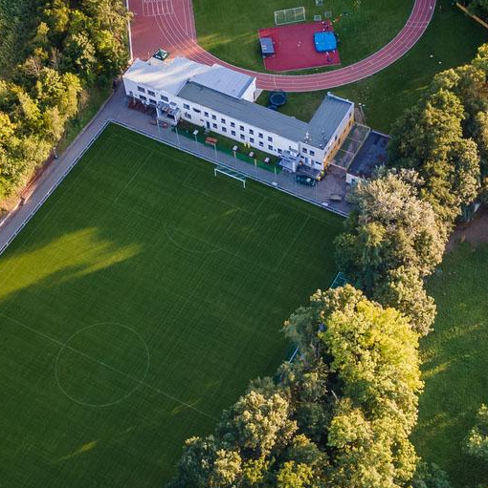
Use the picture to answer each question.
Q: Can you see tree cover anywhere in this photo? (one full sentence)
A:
Yes, the picture does contain tree cover.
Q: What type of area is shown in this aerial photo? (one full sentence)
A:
This looks like a sports ground.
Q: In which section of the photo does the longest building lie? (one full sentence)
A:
The longest building is located in the top region of the scene.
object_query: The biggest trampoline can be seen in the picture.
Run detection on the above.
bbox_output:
[269,93,286,107]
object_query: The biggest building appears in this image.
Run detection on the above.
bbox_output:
[123,55,355,170]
